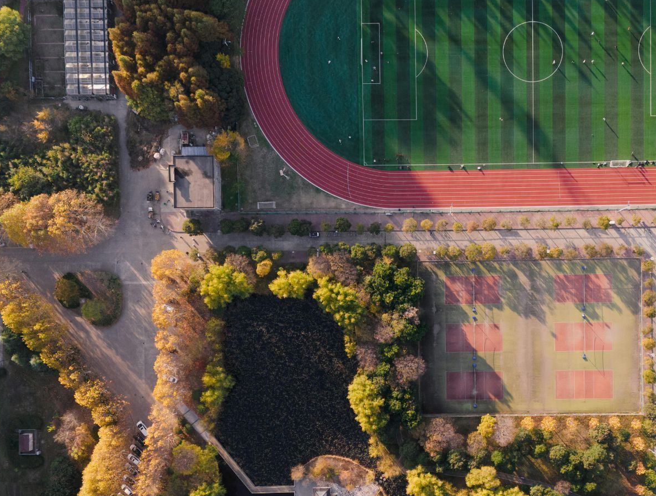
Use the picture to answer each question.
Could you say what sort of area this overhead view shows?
sports ground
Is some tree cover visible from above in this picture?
Yes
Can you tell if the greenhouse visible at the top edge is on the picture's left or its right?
left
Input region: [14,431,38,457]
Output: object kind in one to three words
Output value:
shed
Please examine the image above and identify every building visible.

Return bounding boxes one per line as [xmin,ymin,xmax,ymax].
[14,431,38,457]
[312,484,338,496]
[167,156,221,209]
[64,0,116,98]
